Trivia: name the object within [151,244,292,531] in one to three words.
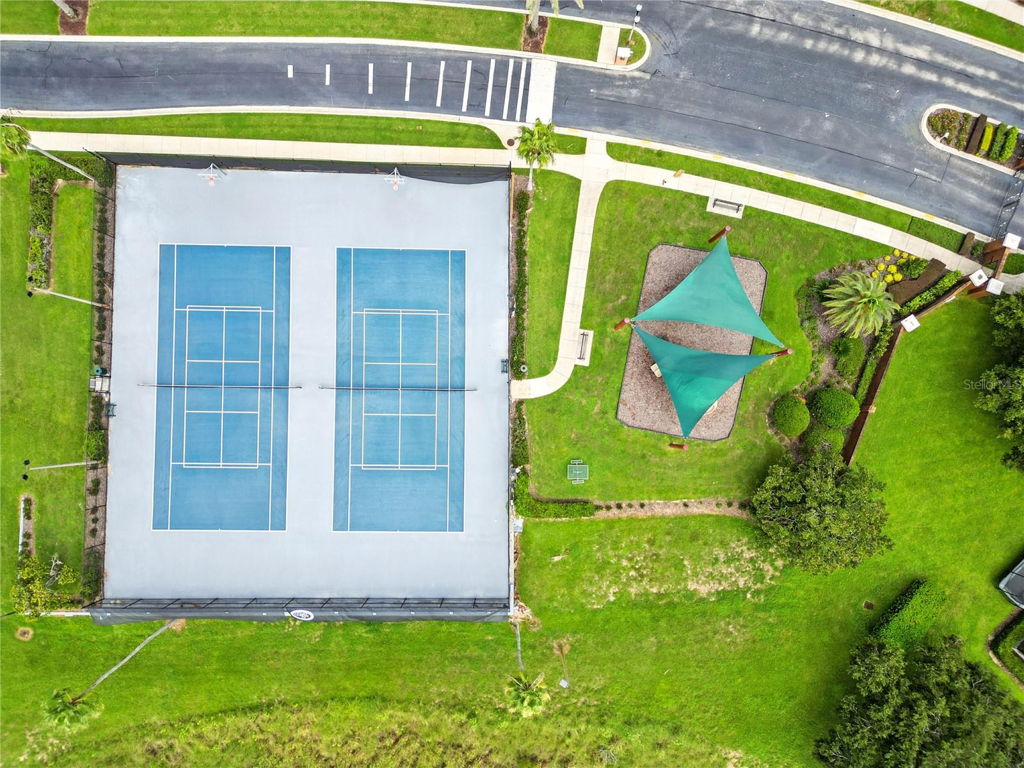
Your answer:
tennis court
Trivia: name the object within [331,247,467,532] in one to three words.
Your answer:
tennis court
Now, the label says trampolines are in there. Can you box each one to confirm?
[989,548,1024,611]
